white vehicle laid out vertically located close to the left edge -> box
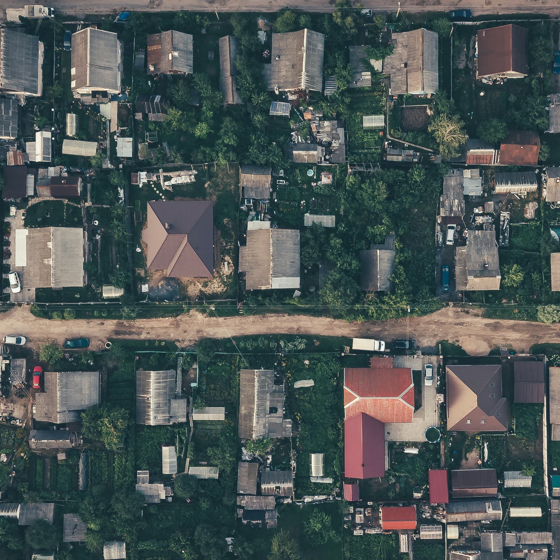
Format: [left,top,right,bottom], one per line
[8,270,22,294]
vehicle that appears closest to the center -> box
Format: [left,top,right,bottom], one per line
[352,338,385,352]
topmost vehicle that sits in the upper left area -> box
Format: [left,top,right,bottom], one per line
[21,2,56,20]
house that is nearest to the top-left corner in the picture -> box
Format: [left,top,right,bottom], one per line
[0,28,49,106]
